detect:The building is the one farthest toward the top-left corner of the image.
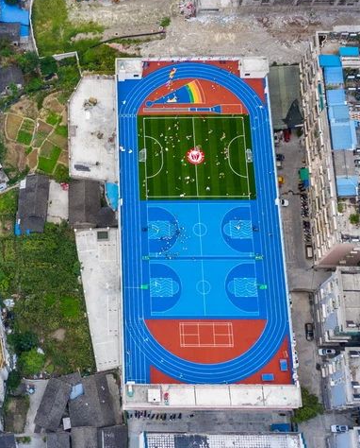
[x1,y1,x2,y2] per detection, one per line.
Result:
[0,23,19,48]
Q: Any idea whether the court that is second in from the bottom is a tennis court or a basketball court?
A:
basketball court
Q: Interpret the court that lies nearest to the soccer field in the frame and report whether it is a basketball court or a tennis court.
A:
basketball court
